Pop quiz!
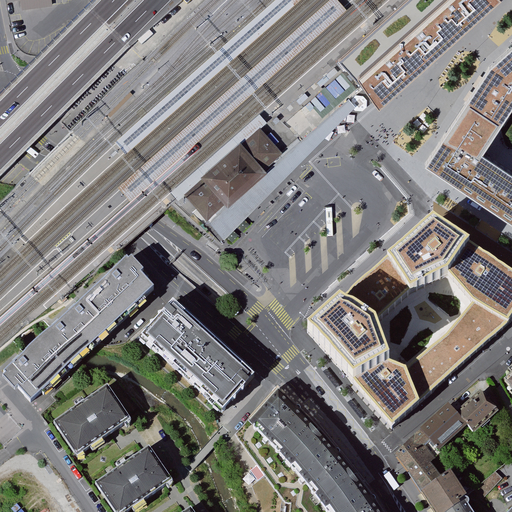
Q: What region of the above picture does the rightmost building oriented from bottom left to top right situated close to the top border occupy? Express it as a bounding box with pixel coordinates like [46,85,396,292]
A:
[360,0,508,114]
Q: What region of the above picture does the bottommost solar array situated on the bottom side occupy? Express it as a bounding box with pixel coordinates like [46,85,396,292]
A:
[362,365,410,412]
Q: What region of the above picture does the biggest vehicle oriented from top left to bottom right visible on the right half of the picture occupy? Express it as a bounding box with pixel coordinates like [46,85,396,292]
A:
[383,471,400,491]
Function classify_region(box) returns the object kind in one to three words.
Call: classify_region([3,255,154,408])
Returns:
building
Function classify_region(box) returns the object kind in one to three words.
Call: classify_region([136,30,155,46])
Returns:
vehicle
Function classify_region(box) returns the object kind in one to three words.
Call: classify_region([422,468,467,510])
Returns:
house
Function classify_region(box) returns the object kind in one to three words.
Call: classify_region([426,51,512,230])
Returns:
building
